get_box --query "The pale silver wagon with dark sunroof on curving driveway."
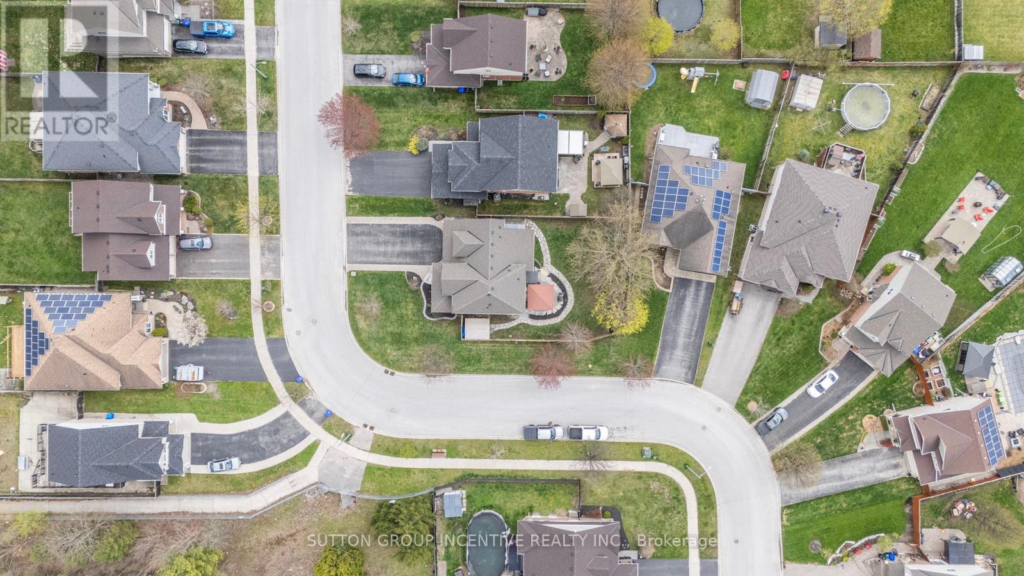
[207,456,242,473]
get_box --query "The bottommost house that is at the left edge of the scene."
[47,420,189,488]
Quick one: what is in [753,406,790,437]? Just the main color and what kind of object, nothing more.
gray truck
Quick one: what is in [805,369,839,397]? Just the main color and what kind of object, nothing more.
white car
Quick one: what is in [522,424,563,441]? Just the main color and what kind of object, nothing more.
white vehicle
